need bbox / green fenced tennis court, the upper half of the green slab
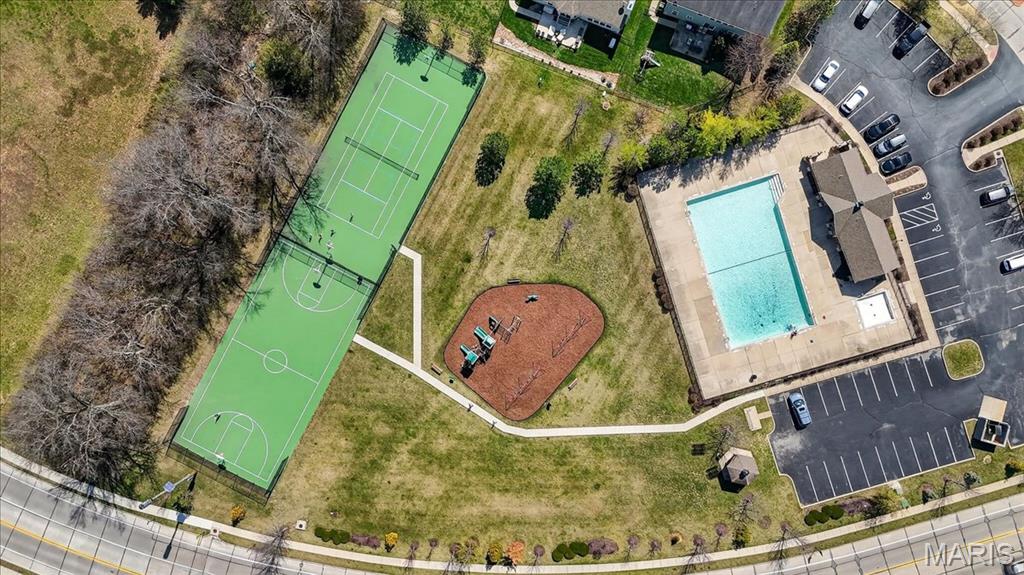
[279,23,483,284]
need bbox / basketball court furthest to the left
[173,235,376,489]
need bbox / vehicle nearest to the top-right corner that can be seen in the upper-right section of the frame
[897,21,932,56]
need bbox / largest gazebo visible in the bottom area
[718,447,758,487]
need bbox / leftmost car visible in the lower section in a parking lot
[791,396,812,428]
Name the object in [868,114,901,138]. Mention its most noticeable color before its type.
black car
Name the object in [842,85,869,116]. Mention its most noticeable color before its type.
white car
